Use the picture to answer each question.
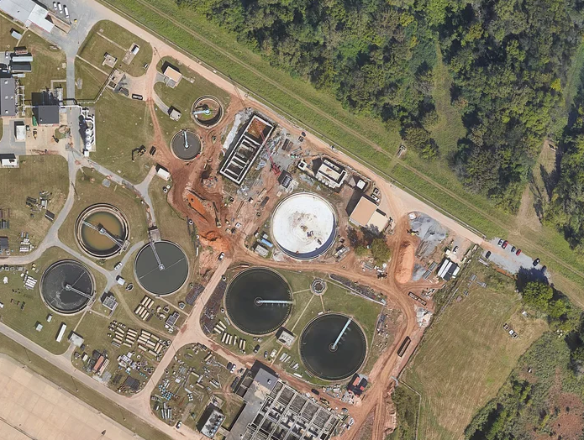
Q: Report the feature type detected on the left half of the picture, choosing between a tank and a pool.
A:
tank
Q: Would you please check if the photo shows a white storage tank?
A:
Yes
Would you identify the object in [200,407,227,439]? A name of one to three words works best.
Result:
building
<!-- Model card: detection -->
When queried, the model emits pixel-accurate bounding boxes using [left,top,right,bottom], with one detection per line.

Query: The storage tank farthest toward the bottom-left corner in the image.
[39,258,98,316]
